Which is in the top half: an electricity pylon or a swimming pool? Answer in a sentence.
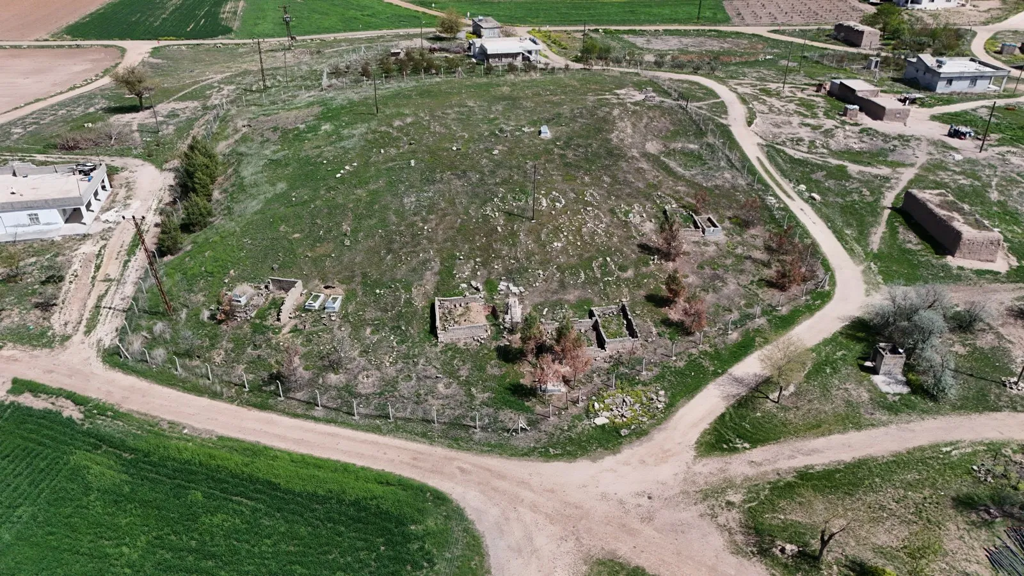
Looking in the top half, you will find an electricity pylon.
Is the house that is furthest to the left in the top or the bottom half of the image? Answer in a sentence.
The house that is furthest to the left is in the top half of the image.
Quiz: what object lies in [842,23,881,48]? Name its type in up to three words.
building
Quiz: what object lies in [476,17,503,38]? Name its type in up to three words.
house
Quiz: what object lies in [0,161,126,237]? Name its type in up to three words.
house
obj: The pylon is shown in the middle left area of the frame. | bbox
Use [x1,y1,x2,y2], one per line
[120,214,176,315]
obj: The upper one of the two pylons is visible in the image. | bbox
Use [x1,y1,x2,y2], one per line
[251,38,267,91]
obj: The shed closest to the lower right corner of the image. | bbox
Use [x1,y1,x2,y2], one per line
[862,339,921,393]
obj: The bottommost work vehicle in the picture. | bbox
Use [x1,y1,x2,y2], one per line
[947,124,974,141]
